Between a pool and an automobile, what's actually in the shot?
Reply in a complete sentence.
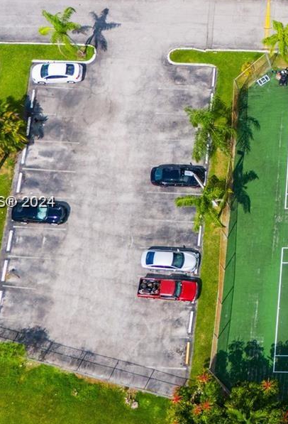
The one in the frame is an automobile.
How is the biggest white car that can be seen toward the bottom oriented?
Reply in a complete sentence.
Seen from above, the biggest white car that can be seen toward the bottom lies horizontally.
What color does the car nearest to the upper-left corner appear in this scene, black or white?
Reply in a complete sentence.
In this view, the car nearest to the upper-left corner is white.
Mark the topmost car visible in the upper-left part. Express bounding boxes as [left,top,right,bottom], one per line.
[30,61,84,84]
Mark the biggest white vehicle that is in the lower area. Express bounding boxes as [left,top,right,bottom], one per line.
[140,249,199,274]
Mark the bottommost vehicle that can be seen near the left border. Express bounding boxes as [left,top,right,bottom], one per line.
[10,201,69,225]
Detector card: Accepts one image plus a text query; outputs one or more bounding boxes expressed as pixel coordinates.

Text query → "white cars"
[30,61,84,84]
[140,249,199,274]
